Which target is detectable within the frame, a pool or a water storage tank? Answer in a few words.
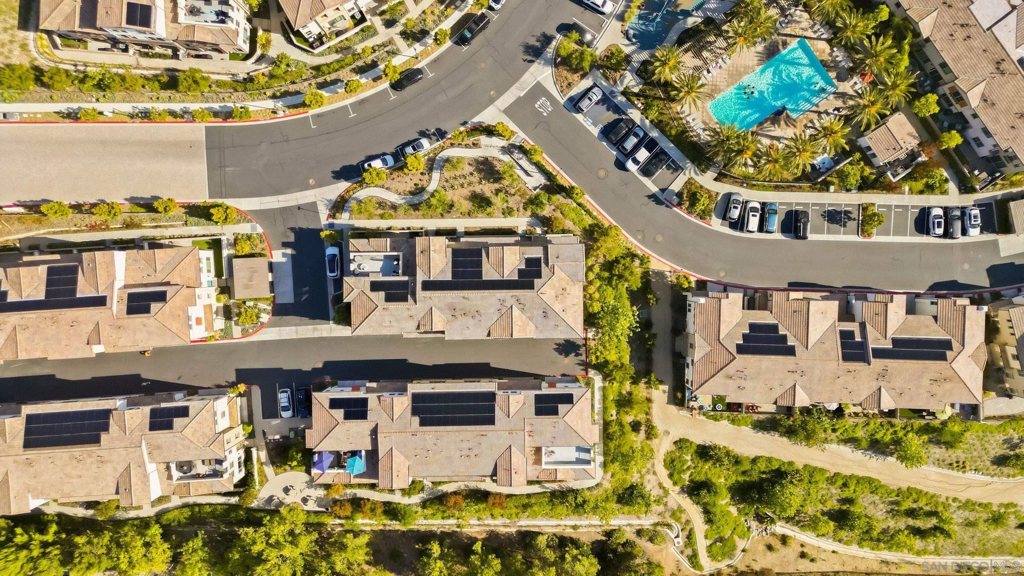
pool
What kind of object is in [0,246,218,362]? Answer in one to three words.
house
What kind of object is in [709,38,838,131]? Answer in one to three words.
swimming pool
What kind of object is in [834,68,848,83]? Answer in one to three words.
umbrella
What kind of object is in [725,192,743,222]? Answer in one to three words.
car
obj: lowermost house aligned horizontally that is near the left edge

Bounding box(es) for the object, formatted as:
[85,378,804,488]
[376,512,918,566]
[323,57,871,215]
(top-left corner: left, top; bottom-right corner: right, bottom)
[0,393,247,516]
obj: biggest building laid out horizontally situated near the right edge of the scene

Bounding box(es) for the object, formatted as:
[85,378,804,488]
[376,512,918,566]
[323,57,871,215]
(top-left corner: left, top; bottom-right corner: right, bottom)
[679,291,990,410]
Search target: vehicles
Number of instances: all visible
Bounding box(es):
[763,203,779,232]
[402,138,430,155]
[325,247,340,278]
[278,388,294,418]
[964,207,981,236]
[725,192,743,222]
[575,86,603,114]
[364,153,394,170]
[393,68,424,91]
[457,10,492,48]
[571,23,598,48]
[296,387,311,418]
[626,138,658,170]
[794,210,810,240]
[642,151,669,179]
[744,202,762,234]
[618,126,645,154]
[946,208,963,238]
[928,208,944,236]
[606,117,634,145]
